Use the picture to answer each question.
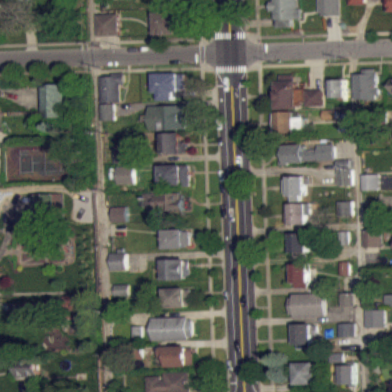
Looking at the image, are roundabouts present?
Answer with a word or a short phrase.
No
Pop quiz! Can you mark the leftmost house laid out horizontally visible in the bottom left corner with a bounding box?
[8,364,43,380]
